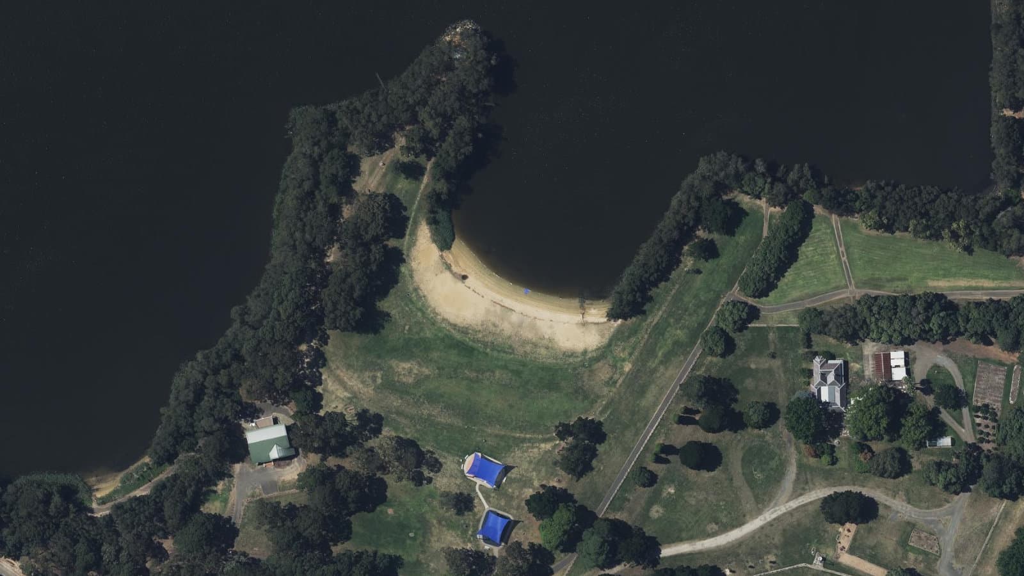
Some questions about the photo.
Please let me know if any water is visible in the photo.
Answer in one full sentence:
Yes, the picture does contain water.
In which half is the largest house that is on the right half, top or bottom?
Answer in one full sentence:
Seen from above, the largest house that is on the right half lies in the bottom half of the view.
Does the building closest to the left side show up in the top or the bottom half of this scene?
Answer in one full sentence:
The building closest to the left side is in the bottom half of the image.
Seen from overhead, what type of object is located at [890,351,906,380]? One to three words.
shed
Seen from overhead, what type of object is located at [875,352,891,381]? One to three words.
shed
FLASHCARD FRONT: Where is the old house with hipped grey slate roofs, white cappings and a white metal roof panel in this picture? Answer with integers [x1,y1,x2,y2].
[811,356,845,413]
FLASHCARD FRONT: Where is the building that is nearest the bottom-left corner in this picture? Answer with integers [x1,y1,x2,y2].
[245,419,297,465]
